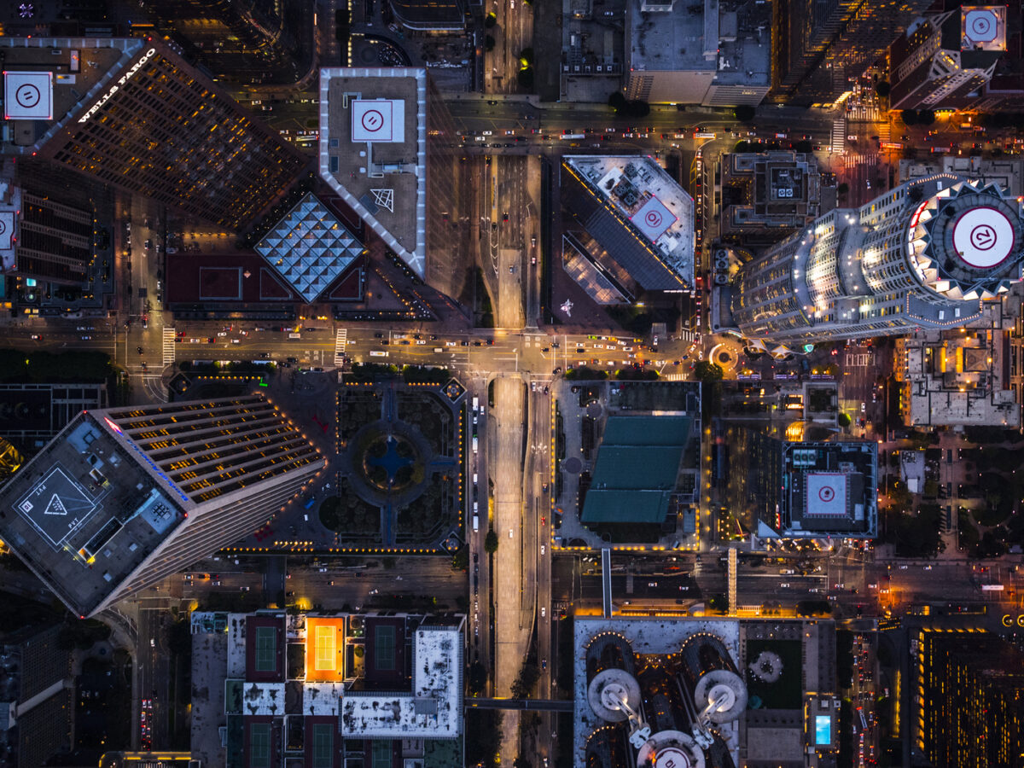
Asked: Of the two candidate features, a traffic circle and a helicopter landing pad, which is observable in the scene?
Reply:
helicopter landing pad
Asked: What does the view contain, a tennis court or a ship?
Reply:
tennis court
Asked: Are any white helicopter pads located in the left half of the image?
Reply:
No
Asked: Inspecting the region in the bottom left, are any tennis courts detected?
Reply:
Yes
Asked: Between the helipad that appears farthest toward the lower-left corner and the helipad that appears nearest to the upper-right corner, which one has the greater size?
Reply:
the helipad that appears farthest toward the lower-left corner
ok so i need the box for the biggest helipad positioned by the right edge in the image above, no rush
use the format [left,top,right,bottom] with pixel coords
[951,208,1015,270]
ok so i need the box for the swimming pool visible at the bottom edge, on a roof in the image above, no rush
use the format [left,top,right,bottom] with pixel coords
[815,715,830,745]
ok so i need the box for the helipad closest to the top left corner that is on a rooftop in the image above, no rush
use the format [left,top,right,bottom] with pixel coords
[4,72,60,122]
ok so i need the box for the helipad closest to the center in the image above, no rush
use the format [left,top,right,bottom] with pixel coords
[629,196,677,243]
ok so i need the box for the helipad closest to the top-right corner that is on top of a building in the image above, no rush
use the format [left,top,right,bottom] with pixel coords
[964,10,997,43]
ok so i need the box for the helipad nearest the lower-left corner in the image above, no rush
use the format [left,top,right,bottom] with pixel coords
[13,461,104,552]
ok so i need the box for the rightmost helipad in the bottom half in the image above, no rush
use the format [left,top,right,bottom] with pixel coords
[806,473,847,515]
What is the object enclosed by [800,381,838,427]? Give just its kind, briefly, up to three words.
building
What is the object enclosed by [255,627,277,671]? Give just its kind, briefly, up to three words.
tennis court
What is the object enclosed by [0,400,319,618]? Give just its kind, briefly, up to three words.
building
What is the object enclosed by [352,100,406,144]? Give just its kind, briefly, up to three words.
helipad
